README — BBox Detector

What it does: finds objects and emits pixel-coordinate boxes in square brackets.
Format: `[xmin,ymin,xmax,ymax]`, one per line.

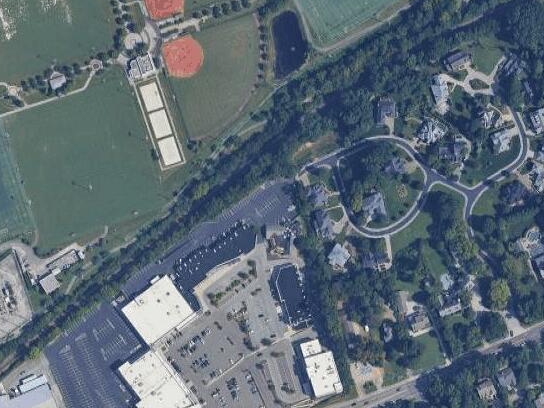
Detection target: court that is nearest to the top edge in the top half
[137,80,165,113]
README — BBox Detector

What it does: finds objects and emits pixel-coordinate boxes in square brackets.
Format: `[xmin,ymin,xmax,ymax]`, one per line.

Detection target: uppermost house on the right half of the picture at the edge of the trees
[440,47,474,74]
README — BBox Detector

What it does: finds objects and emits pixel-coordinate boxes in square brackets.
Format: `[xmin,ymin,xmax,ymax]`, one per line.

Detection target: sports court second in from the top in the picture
[146,107,174,141]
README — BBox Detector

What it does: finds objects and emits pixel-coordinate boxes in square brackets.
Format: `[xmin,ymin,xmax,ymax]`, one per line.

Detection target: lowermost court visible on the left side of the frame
[155,135,185,169]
